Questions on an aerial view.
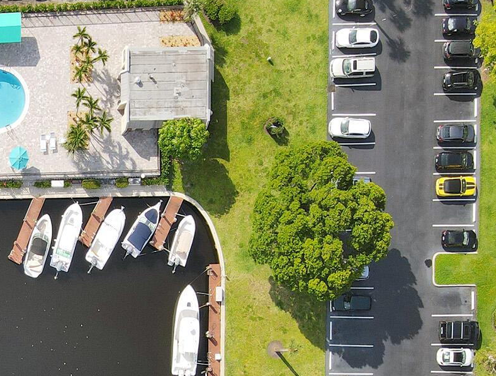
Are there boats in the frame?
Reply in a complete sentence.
Yes, I can see a boat in this picture.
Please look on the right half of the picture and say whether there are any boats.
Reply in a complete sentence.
No, no boat can be made out on the right half of the picture.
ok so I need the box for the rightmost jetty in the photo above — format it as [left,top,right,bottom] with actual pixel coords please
[208,264,221,376]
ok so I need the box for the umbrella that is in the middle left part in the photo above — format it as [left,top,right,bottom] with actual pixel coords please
[8,148,28,168]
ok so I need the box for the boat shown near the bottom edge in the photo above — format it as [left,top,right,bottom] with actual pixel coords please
[170,285,202,376]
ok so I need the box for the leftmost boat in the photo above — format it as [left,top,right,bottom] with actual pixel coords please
[21,214,54,283]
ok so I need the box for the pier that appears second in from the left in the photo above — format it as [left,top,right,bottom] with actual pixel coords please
[81,196,113,247]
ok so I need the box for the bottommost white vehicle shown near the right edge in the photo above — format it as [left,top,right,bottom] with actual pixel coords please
[435,348,474,368]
